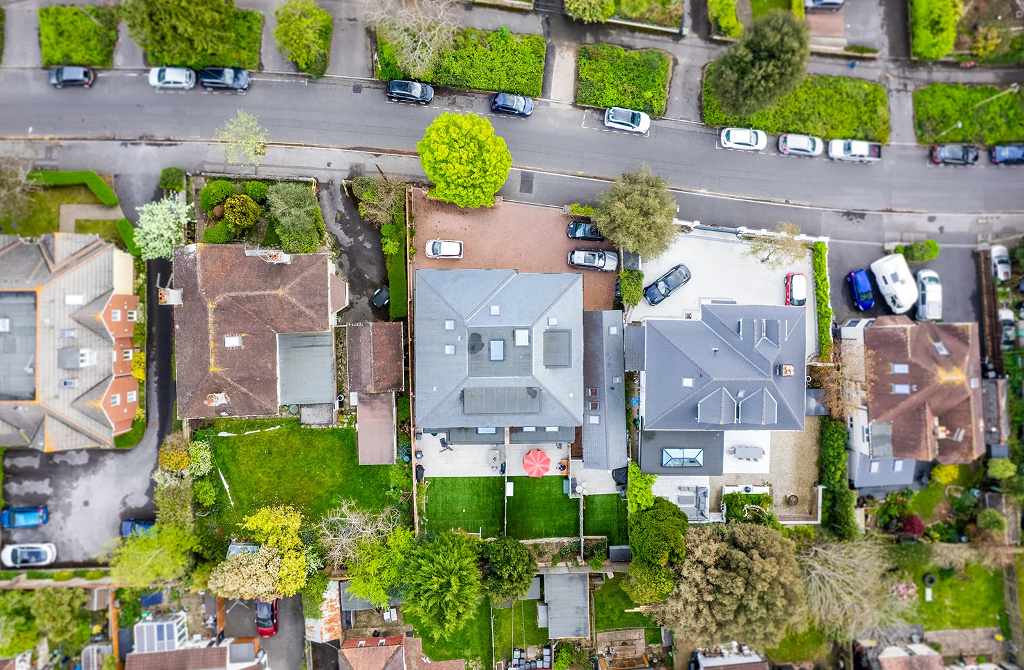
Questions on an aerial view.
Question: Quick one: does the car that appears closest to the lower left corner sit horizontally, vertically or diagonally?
horizontally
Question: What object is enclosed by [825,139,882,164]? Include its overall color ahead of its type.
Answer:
white truck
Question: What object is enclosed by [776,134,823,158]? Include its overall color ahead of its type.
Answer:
white car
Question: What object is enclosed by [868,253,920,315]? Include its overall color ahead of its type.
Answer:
white camper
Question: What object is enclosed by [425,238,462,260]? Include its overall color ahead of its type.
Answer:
white car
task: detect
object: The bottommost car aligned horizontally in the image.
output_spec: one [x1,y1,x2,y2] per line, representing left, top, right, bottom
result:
[5,544,56,568]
